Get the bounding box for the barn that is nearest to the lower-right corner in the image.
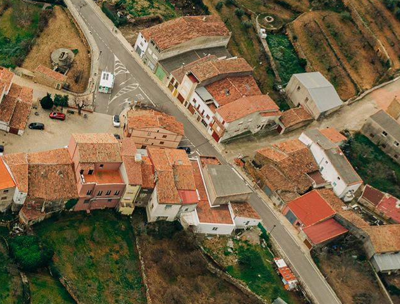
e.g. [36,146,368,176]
[348,222,400,280]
